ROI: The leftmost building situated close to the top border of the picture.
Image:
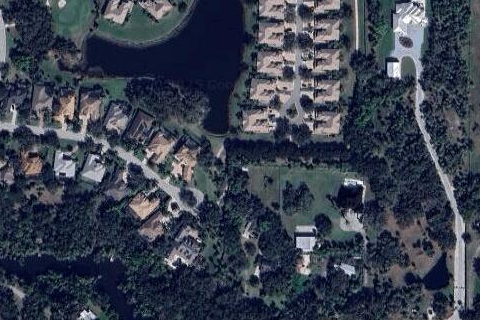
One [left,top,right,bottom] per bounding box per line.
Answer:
[101,0,133,24]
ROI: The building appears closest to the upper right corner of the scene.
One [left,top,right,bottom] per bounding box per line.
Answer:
[392,2,429,34]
